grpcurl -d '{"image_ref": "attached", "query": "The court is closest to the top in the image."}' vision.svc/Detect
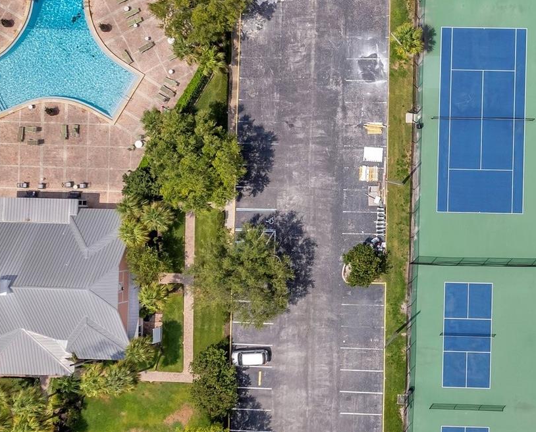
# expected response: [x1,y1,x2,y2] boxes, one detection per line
[431,26,533,213]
